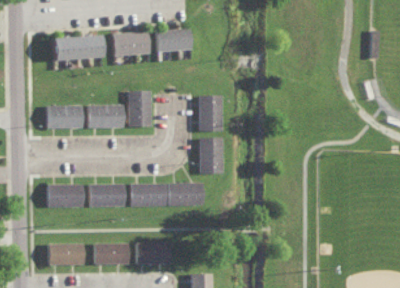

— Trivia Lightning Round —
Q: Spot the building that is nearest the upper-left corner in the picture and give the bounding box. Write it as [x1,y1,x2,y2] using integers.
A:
[52,34,107,69]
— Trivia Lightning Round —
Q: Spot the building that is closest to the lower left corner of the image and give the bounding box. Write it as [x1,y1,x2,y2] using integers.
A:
[48,244,86,266]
